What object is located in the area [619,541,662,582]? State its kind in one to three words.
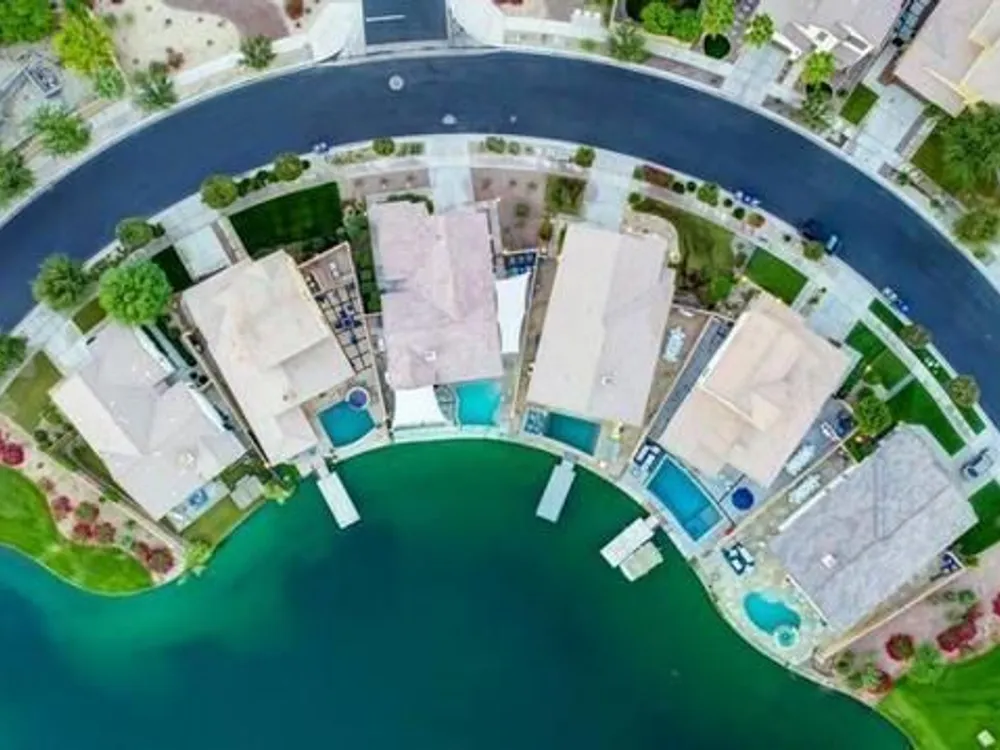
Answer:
boat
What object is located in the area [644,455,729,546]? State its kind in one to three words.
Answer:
swimming pool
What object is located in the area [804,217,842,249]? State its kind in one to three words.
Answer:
truck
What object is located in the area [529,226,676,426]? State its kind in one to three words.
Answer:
house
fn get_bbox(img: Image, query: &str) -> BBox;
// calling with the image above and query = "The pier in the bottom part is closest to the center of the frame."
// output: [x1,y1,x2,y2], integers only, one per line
[536,458,578,522]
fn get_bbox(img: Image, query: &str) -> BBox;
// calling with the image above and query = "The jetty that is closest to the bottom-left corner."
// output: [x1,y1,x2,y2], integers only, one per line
[315,467,359,527]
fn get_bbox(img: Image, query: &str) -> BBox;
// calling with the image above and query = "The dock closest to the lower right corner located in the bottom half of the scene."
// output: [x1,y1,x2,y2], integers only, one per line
[602,514,656,565]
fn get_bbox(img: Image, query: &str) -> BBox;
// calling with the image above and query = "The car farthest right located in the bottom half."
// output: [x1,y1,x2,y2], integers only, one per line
[957,448,997,481]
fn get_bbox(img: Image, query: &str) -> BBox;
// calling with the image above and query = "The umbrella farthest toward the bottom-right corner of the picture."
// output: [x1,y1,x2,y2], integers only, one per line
[730,487,753,510]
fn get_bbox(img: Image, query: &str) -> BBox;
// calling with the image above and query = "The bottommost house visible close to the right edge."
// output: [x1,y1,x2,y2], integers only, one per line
[763,422,982,633]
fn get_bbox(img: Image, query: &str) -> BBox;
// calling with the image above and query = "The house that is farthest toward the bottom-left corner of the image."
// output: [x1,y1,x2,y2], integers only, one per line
[51,322,246,521]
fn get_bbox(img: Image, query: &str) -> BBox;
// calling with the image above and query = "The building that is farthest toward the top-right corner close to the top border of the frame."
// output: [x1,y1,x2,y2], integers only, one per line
[893,0,1000,118]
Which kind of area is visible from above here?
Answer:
residential area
